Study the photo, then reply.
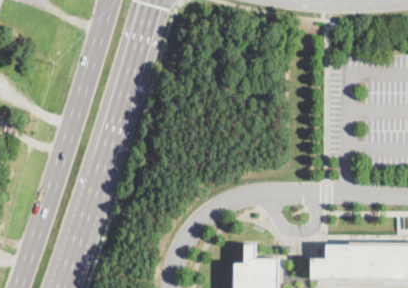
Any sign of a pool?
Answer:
No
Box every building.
[310,242,408,281]
[233,243,278,288]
